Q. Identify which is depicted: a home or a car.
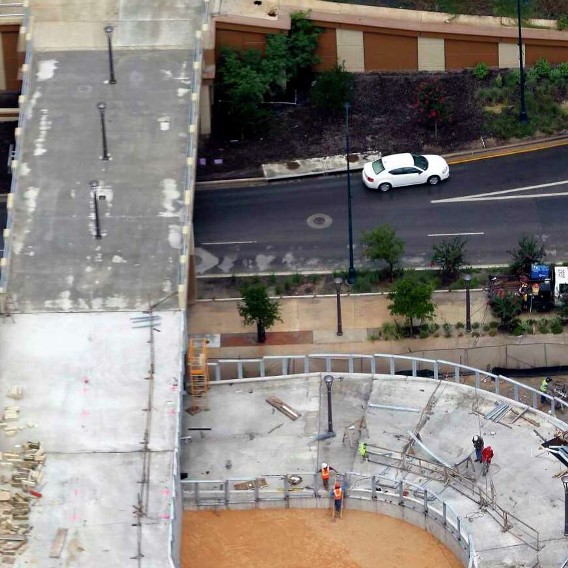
car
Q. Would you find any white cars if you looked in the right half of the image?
Yes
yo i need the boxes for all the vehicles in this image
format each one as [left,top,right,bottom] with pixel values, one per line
[358,148,451,191]
[487,261,568,316]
